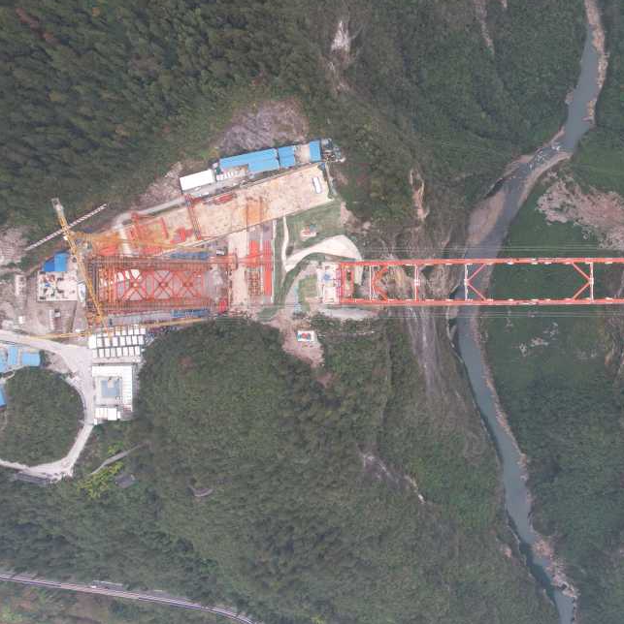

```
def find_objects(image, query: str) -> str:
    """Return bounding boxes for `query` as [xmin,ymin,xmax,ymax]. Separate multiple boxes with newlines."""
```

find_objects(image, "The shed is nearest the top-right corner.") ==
[309,140,324,165]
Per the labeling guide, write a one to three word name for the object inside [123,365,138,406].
building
